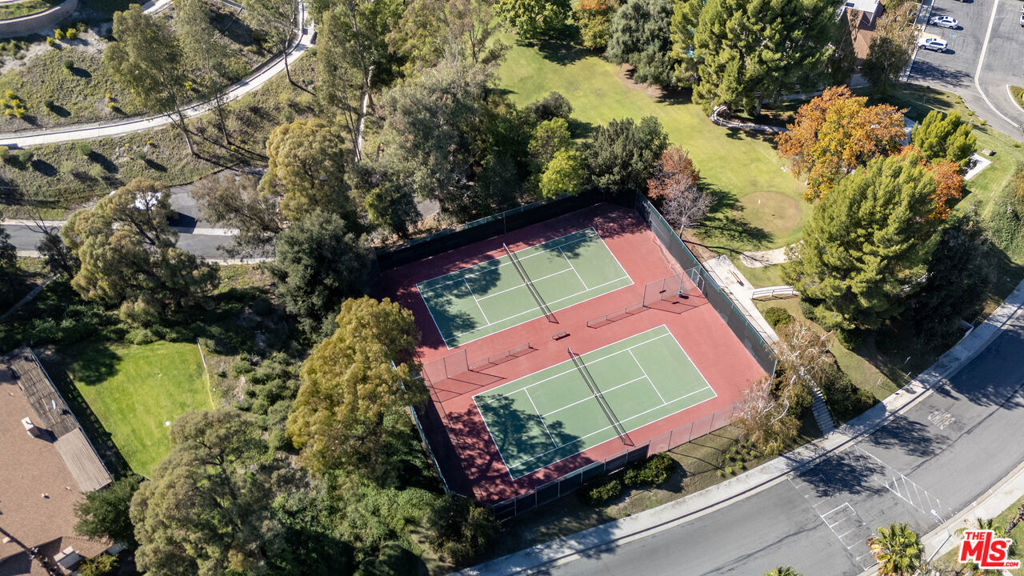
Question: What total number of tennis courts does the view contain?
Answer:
2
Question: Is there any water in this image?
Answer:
No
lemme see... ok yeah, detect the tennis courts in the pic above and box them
[472,325,717,480]
[417,227,634,350]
